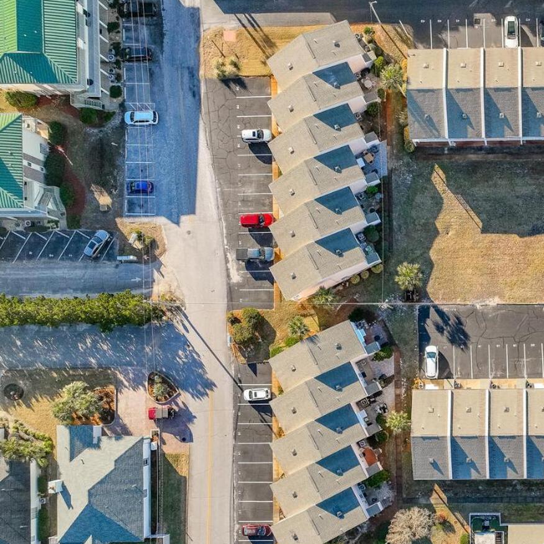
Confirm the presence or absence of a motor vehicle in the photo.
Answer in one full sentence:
Yes, there is a motor vehicle in the image.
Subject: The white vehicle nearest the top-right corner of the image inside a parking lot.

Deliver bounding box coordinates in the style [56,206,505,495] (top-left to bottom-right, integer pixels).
[503,16,519,48]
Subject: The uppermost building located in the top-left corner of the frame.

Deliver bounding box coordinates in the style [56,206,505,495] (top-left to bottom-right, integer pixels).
[0,0,109,109]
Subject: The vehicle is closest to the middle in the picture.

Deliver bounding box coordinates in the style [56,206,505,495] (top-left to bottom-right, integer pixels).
[235,246,275,261]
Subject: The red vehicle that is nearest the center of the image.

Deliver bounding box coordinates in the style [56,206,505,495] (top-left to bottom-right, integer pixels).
[239,212,276,228]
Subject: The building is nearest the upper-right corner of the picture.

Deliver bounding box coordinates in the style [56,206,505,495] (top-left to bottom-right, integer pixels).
[405,46,544,152]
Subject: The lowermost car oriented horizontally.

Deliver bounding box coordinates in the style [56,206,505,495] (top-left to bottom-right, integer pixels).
[241,523,274,539]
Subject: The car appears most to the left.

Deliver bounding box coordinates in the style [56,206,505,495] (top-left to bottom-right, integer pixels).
[83,228,112,260]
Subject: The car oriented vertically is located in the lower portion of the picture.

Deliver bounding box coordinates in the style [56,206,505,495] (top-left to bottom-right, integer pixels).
[423,345,438,377]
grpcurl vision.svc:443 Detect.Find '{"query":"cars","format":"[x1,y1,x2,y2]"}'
[240,127,274,143]
[241,523,274,539]
[125,179,155,195]
[423,345,438,377]
[244,386,271,402]
[120,45,154,62]
[83,228,112,260]
[124,109,160,125]
[239,212,276,228]
[538,16,544,48]
[503,16,519,48]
